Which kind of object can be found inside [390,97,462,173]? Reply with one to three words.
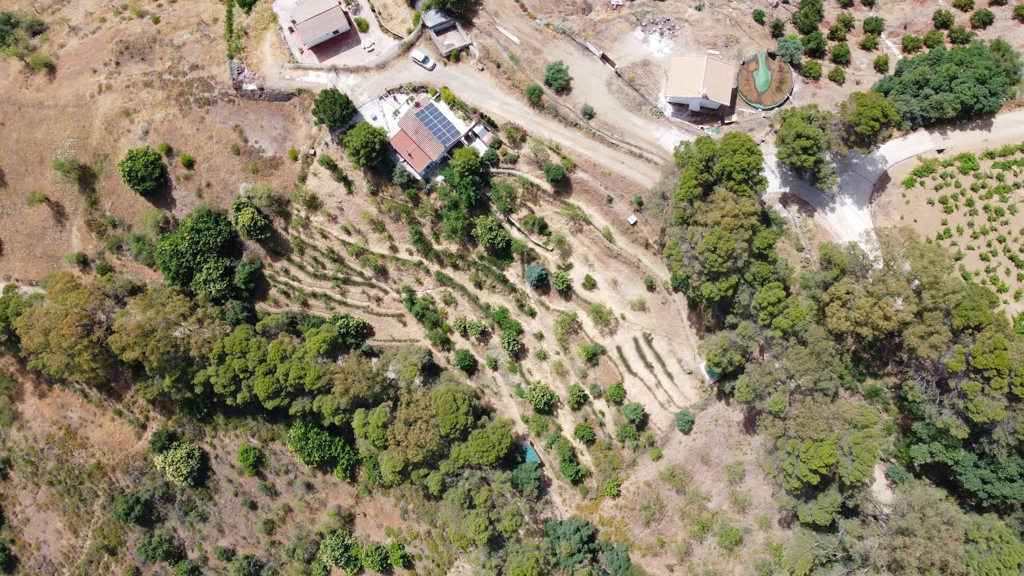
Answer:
house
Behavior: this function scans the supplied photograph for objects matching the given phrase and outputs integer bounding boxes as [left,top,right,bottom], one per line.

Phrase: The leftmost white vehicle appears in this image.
[411,49,436,71]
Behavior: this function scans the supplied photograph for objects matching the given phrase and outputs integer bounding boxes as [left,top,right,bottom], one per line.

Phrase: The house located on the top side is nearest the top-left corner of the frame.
[285,0,353,50]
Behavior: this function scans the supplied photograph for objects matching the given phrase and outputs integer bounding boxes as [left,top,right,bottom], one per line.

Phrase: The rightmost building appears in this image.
[664,56,735,108]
